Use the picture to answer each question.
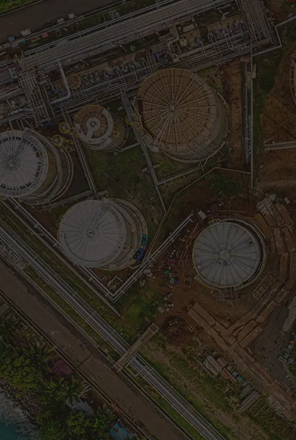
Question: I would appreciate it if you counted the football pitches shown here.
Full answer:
There are no football pitches in the image.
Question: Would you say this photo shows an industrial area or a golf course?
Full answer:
This looks like an industrial area.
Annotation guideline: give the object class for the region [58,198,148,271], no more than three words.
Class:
storage tank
